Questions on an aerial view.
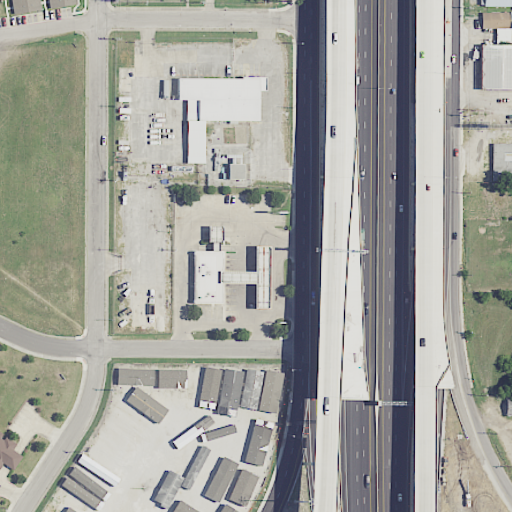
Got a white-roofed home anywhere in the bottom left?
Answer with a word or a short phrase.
Yes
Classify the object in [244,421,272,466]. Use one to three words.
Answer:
house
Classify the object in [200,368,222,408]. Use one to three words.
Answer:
house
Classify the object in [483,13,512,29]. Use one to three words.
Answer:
shed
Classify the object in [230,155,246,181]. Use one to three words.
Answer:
building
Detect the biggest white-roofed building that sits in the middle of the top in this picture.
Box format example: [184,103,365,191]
[178,78,267,163]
